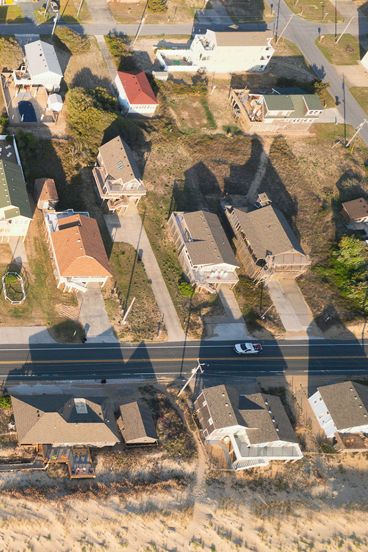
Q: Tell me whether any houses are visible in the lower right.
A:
Yes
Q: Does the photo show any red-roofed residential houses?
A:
Yes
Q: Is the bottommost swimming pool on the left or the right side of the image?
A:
left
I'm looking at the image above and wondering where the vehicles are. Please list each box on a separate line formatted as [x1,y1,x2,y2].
[50,2,60,12]
[232,342,265,354]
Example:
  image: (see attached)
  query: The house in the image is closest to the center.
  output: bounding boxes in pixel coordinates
[153,211,246,303]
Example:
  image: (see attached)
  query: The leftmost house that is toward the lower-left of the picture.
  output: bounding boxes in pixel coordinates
[0,382,117,480]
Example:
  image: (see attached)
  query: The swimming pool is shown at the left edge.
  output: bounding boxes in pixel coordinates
[17,100,38,123]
